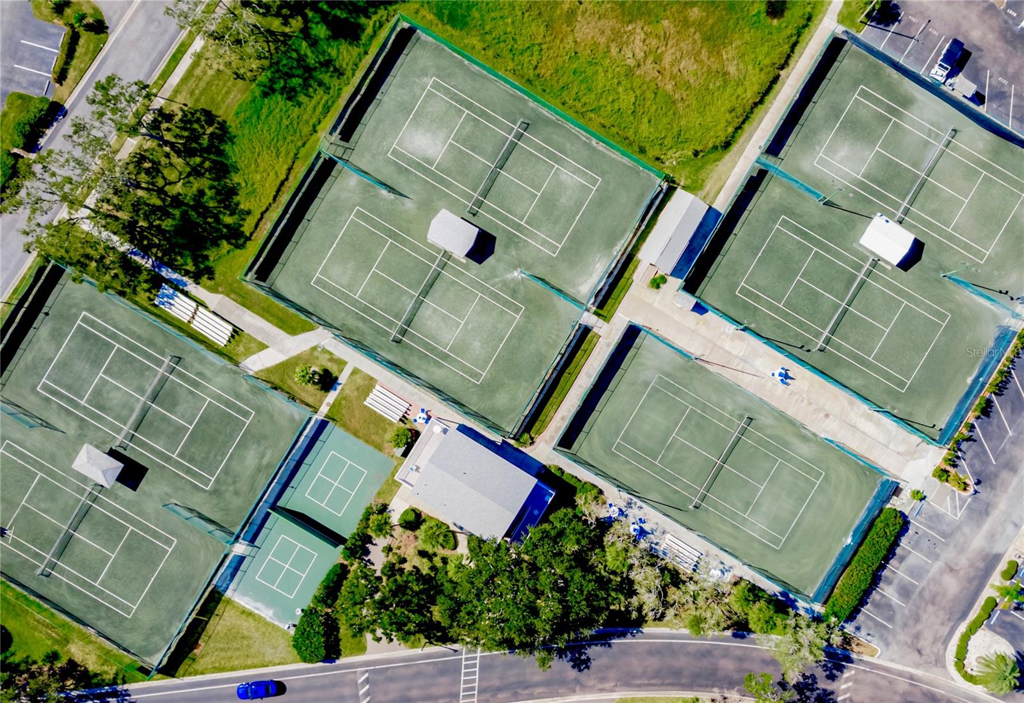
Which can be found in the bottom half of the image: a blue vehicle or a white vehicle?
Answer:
blue vehicle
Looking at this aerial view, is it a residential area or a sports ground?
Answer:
sports ground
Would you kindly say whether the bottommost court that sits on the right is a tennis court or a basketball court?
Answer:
tennis court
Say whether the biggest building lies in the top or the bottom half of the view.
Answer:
bottom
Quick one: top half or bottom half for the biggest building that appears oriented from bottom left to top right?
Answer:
top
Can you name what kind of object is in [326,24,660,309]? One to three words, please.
tennis court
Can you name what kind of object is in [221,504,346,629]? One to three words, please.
sports court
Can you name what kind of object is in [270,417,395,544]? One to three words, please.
sports court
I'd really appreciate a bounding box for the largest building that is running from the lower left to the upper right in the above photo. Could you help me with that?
[638,188,709,275]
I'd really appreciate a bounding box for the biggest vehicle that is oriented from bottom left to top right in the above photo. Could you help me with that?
[930,39,964,81]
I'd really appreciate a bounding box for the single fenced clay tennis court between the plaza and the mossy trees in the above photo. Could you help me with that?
[553,322,880,592]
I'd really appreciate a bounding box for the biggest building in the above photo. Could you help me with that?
[394,417,557,544]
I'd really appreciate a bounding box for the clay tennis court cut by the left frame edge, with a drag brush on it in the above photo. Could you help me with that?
[0,405,237,669]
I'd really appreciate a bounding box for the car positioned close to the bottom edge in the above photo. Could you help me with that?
[237,681,278,703]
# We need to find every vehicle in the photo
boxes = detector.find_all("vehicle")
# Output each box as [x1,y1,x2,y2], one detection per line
[237,681,278,703]
[949,77,979,97]
[930,39,964,81]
